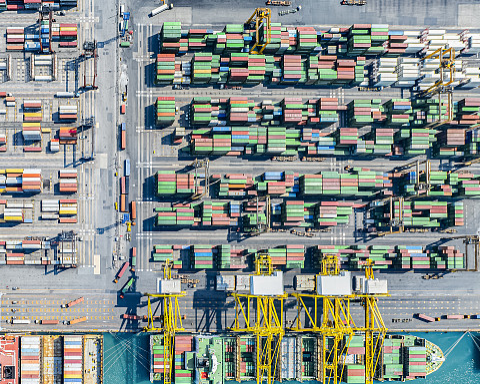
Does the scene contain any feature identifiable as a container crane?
Yes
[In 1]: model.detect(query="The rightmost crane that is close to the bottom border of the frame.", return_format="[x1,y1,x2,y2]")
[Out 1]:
[335,262,397,384]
